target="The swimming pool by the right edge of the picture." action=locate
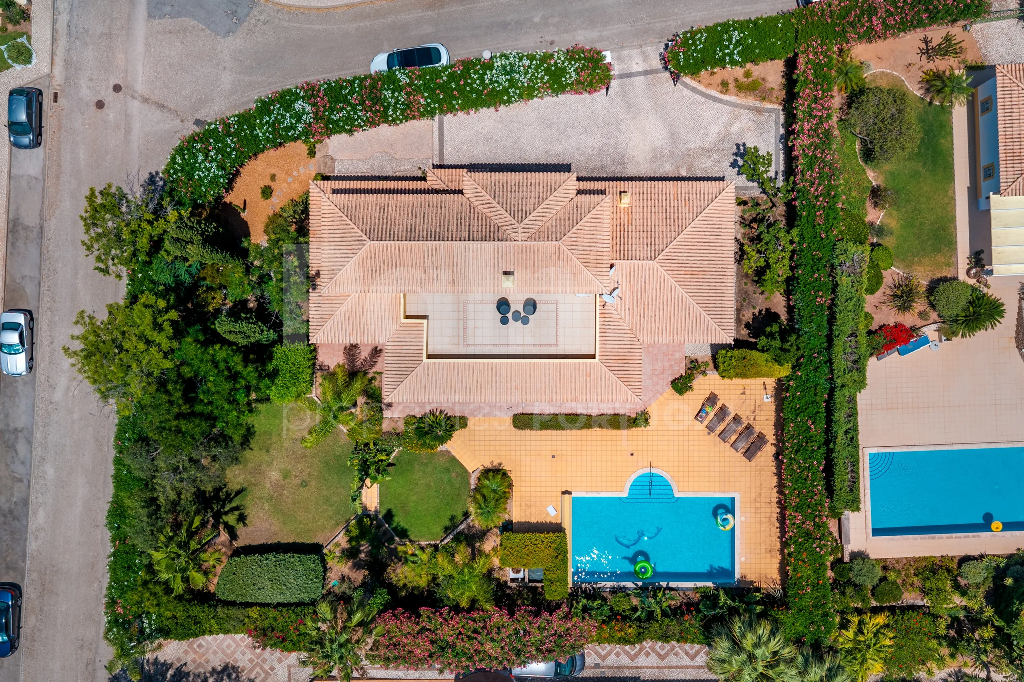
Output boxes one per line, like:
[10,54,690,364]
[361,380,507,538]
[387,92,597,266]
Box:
[864,442,1024,543]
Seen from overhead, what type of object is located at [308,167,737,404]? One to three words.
house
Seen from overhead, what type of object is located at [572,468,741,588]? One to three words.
swimming pool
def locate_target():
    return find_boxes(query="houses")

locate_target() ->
[308,167,737,404]
[975,63,1024,220]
